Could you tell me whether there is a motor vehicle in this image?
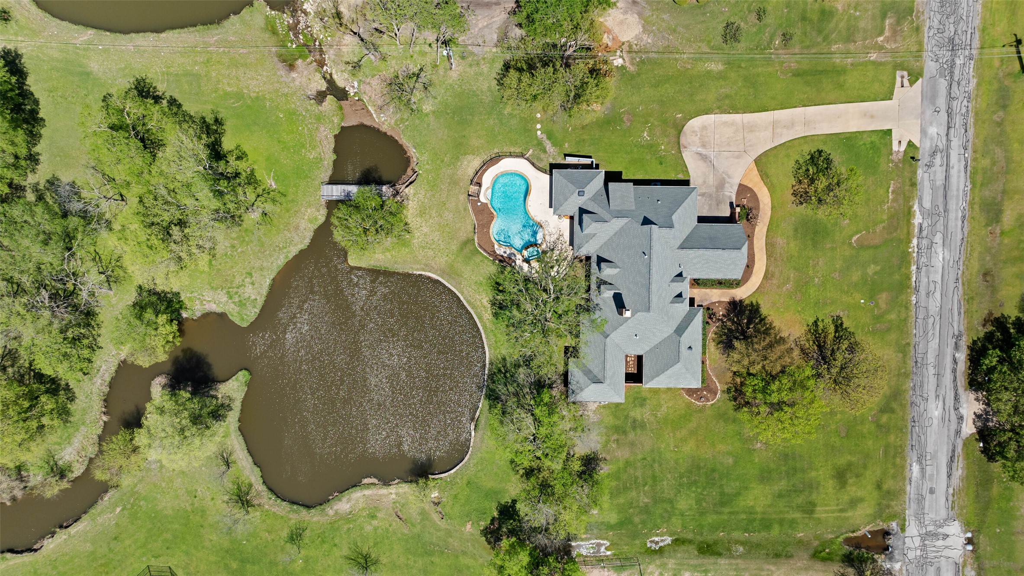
No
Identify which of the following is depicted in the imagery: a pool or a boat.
pool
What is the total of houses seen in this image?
1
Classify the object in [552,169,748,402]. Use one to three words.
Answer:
house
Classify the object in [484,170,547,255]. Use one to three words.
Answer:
swimming pool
